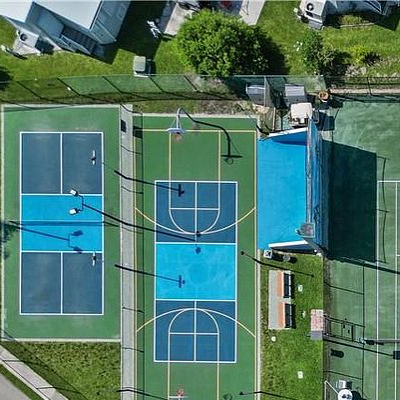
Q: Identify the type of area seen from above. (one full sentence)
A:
The picture captures a sports ground.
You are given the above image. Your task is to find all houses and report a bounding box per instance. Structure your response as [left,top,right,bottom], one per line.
[37,0,151,57]
[322,0,400,15]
